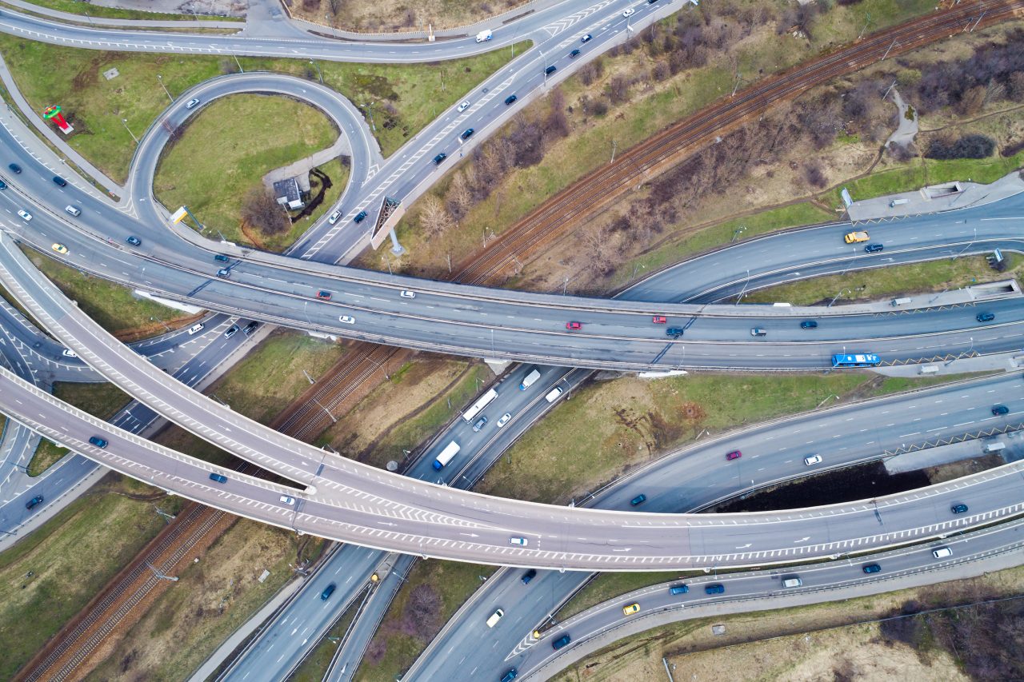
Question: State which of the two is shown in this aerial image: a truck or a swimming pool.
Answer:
truck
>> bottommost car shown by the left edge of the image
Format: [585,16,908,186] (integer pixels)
[25,494,44,511]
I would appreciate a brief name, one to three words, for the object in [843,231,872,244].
vehicle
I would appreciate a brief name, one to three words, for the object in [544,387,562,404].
vehicle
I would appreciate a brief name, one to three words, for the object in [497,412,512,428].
car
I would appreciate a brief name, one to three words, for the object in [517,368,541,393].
truck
